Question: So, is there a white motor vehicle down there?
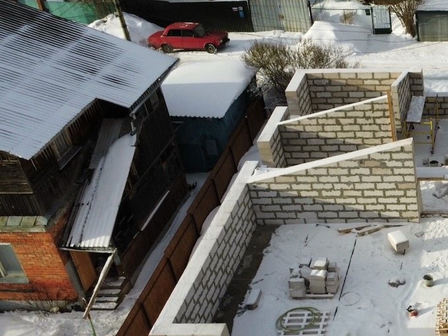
No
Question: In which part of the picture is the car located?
top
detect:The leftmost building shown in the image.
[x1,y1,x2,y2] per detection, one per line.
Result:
[0,0,194,316]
